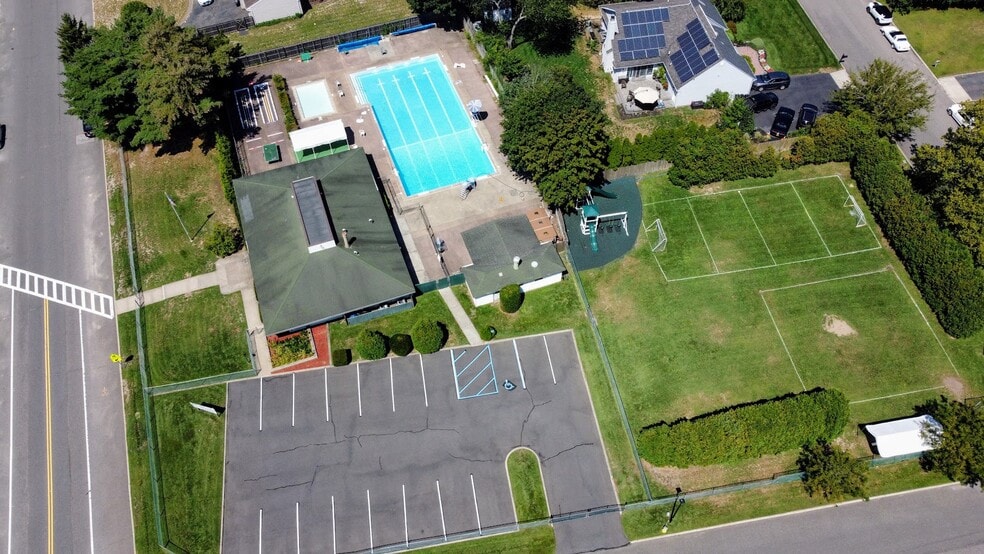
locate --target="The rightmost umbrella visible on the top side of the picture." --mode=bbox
[635,80,666,101]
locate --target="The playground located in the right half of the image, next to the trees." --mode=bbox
[577,186,629,252]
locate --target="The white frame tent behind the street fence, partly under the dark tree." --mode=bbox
[858,412,938,465]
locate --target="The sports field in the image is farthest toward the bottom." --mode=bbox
[749,262,968,403]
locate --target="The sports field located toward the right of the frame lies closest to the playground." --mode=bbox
[640,176,882,282]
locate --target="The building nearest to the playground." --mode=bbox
[459,214,565,306]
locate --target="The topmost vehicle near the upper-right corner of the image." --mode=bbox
[866,0,898,23]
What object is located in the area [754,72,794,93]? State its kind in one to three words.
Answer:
car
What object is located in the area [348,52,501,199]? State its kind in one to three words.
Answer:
swimming pool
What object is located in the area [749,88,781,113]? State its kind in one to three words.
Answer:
car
